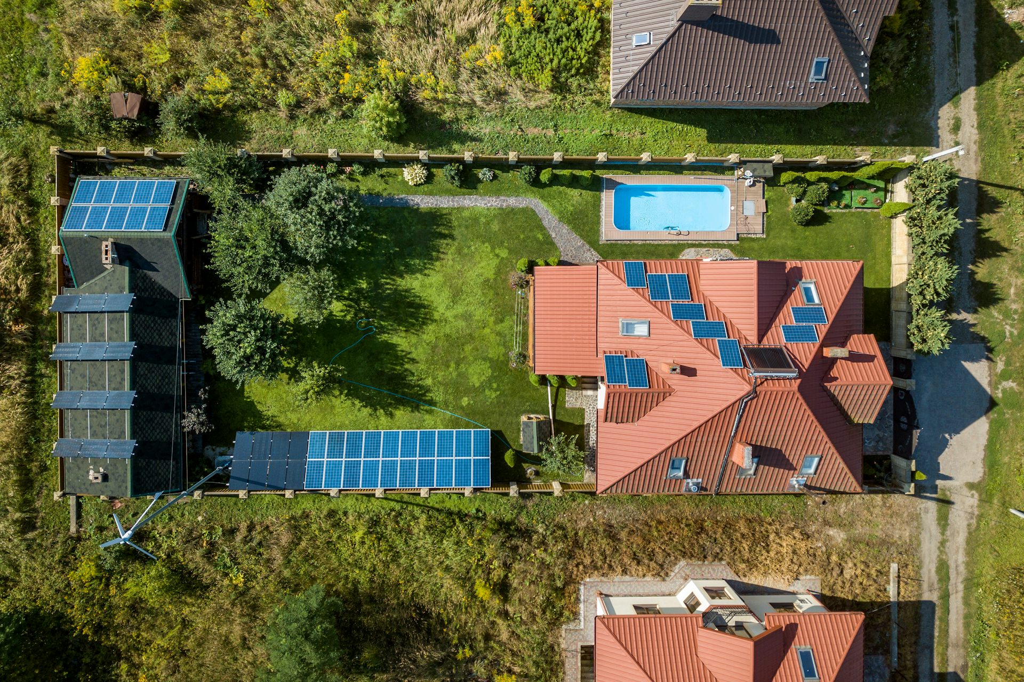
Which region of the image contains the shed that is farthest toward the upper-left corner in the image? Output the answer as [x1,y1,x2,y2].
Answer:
[110,93,151,123]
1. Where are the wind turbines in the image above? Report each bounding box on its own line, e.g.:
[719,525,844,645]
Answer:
[88,461,233,555]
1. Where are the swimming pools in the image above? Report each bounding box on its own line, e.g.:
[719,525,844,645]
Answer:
[612,183,732,232]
